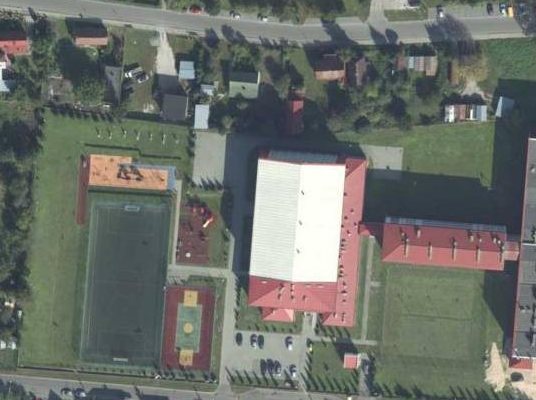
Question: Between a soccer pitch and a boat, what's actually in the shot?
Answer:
soccer pitch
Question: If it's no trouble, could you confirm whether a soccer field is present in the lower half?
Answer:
Yes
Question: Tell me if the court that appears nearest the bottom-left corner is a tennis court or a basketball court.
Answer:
basketball court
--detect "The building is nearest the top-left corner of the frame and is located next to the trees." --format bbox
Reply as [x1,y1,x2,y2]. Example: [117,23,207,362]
[0,25,29,56]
